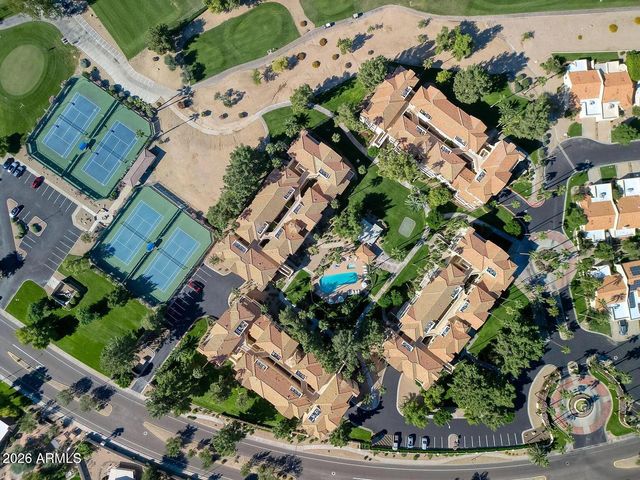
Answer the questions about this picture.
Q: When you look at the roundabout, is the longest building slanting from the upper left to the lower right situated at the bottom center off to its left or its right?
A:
on the left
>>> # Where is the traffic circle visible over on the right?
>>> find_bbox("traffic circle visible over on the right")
[551,376,613,436]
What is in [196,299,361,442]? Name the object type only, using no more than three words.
building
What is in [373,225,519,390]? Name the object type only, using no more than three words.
building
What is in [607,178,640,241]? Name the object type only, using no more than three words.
house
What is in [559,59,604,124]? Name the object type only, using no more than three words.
house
